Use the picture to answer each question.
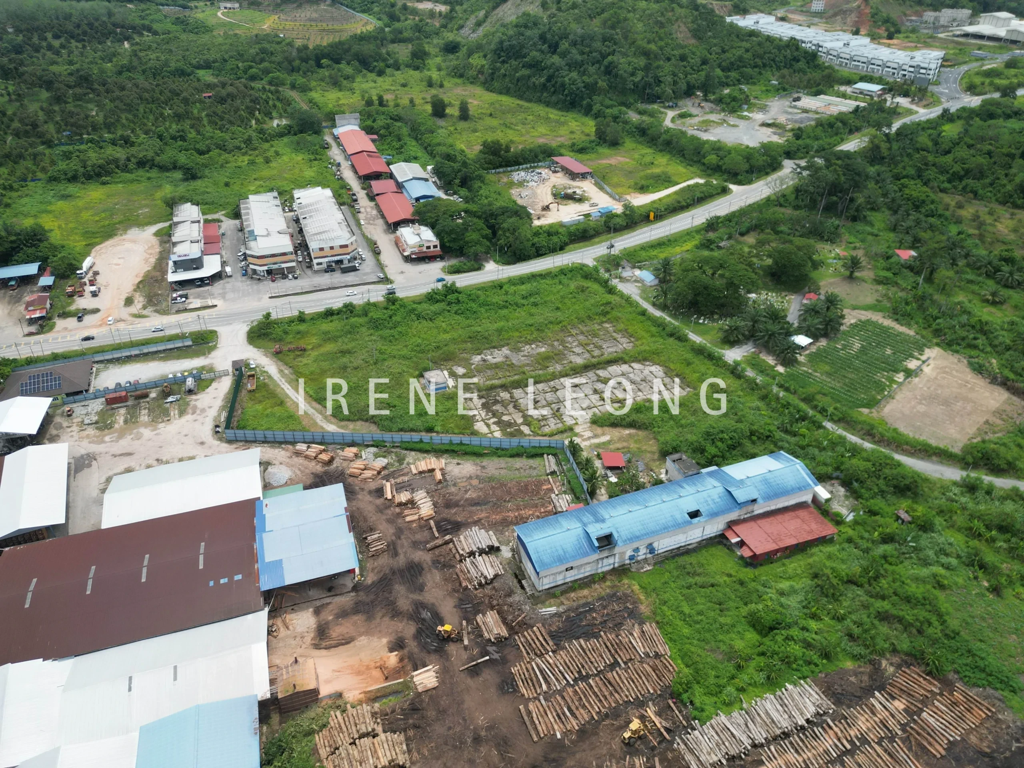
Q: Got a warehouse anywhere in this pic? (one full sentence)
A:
Yes, a warehouse can be made out from above.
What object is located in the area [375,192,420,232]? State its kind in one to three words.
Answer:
shed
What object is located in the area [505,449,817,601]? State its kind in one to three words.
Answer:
warehouse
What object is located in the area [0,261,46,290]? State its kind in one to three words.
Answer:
shed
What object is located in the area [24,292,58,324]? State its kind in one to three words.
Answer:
building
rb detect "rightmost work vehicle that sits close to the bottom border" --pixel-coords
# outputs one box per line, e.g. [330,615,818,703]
[620,714,656,744]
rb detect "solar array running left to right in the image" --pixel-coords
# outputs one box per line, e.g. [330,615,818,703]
[20,374,63,396]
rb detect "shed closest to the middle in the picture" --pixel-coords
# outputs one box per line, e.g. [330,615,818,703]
[423,369,449,394]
